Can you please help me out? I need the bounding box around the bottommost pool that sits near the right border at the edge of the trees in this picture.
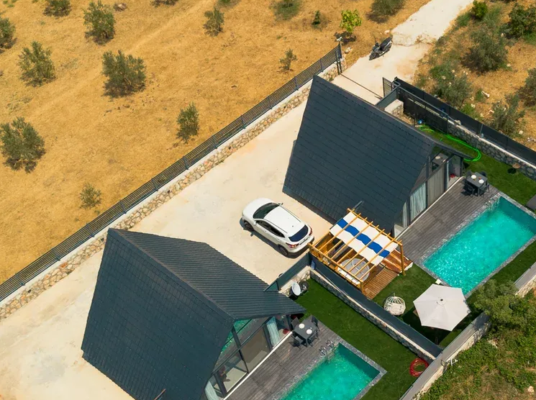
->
[416,192,536,301]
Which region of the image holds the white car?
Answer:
center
